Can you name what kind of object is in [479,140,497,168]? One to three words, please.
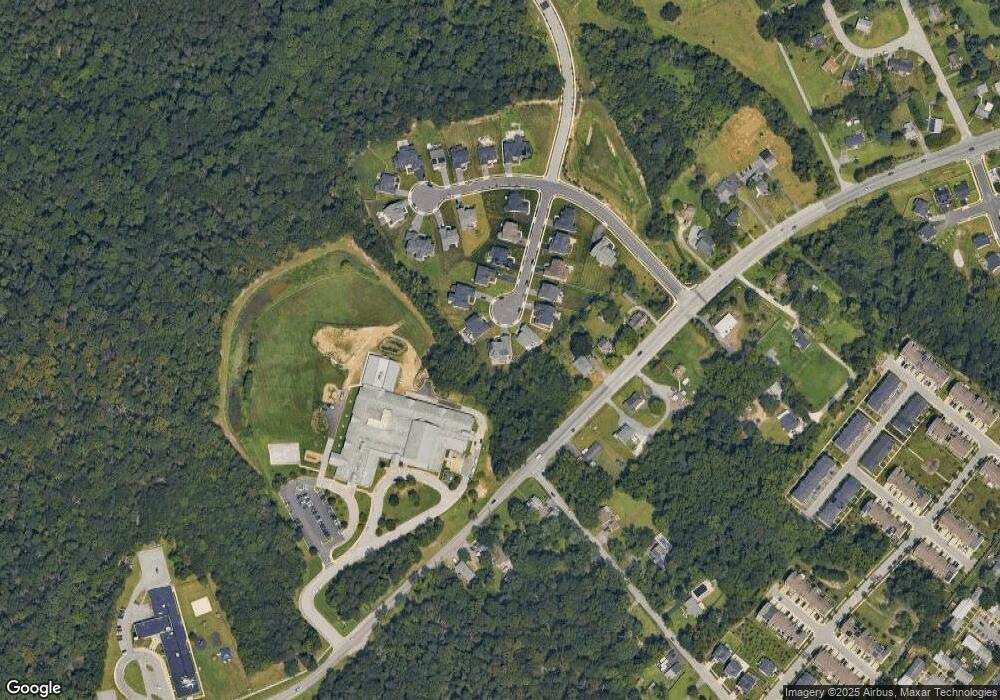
house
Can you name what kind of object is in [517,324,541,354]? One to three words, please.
house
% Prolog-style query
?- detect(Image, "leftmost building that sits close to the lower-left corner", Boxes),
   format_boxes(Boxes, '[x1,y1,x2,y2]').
[134,585,199,695]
